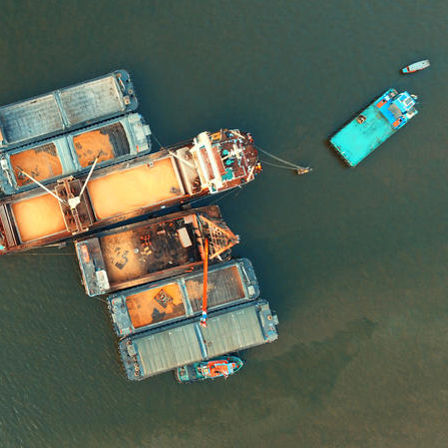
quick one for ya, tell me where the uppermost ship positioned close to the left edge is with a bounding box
[0,70,138,152]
